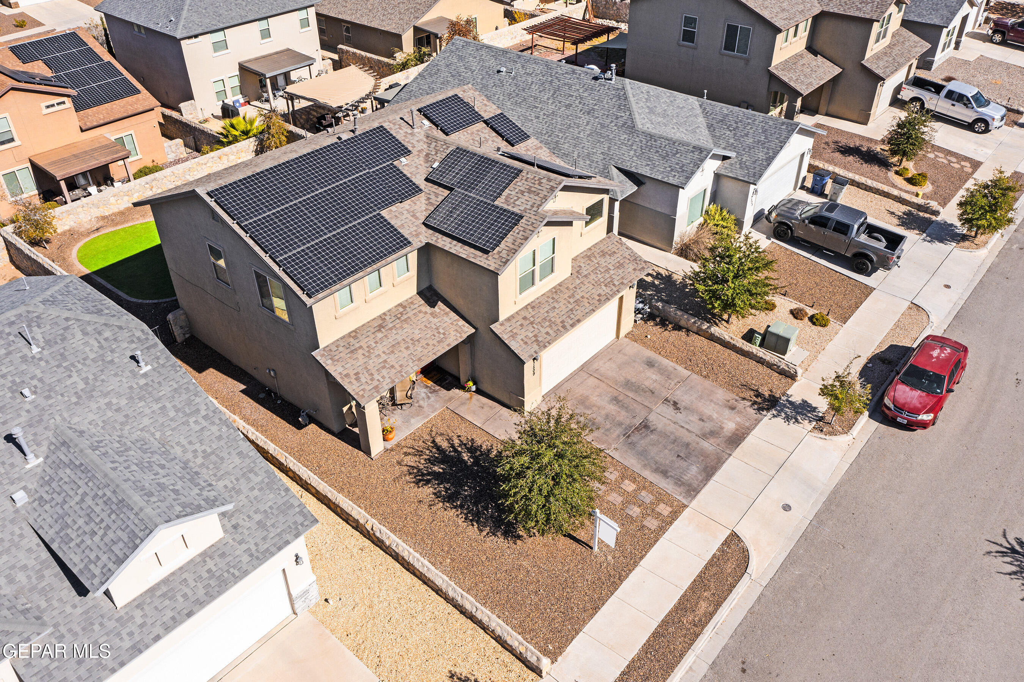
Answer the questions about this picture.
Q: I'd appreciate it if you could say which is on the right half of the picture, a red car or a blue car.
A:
red car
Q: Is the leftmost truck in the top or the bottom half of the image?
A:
top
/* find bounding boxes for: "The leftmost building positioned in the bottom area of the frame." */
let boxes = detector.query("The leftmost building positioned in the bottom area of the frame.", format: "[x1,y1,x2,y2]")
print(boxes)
[0,270,321,682]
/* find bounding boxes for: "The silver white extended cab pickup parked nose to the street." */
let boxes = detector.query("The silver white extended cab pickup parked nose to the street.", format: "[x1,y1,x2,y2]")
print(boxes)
[900,80,1016,131]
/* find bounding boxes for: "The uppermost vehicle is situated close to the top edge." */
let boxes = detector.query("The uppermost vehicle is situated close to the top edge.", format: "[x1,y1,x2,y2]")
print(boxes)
[983,16,1024,47]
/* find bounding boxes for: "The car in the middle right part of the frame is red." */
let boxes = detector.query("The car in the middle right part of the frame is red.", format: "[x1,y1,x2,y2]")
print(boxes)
[886,335,974,428]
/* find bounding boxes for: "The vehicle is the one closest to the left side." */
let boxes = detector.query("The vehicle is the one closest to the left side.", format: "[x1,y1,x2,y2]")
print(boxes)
[760,196,902,272]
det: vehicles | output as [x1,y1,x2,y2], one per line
[900,80,1016,131]
[760,196,902,272]
[983,16,1024,47]
[886,335,974,428]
